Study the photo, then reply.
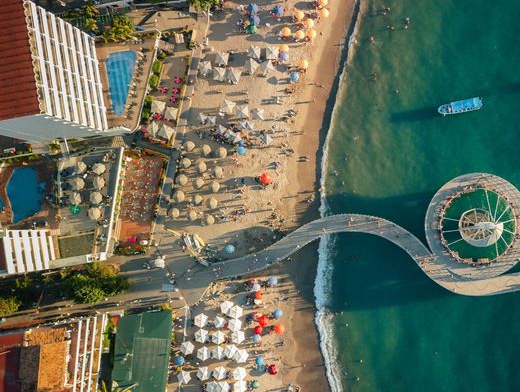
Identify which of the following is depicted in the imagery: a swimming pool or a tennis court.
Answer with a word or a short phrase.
swimming pool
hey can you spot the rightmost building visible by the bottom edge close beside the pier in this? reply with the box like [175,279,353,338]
[111,310,176,392]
